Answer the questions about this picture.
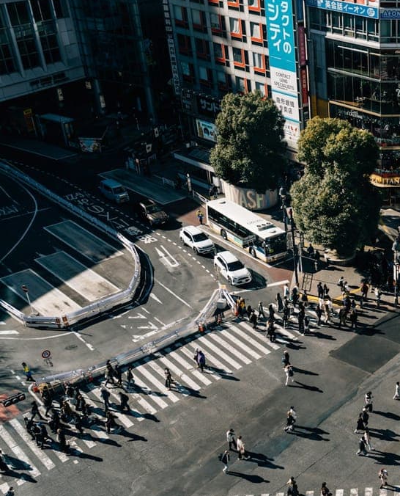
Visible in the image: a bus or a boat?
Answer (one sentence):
There is a bus in the scene.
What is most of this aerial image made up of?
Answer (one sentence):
The bulk of the photo consists of paved ground.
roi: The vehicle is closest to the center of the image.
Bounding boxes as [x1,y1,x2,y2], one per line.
[179,224,213,253]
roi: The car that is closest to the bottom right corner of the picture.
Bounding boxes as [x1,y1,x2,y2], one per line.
[216,249,250,282]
